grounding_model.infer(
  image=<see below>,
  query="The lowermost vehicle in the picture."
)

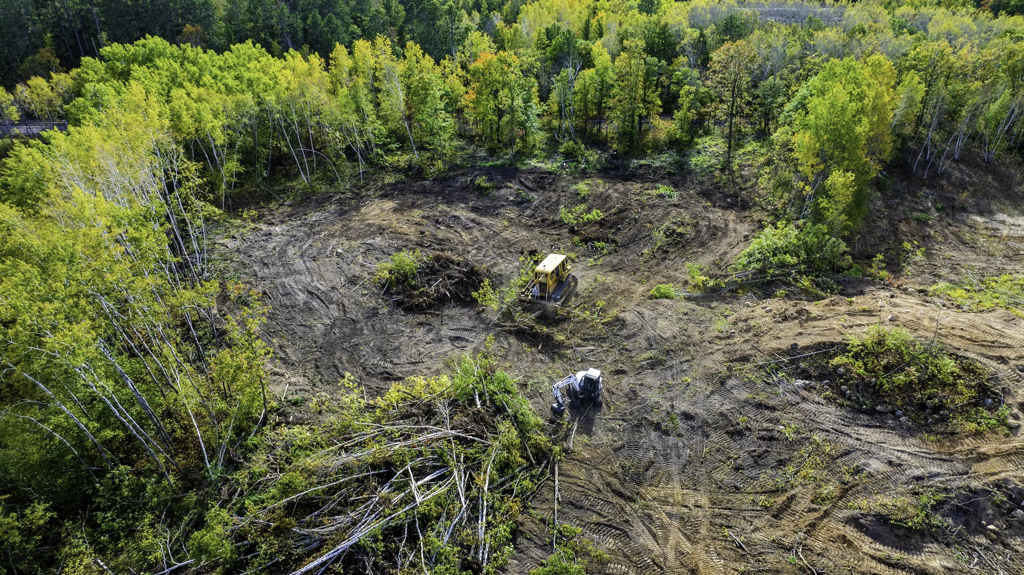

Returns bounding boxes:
[545,365,607,422]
